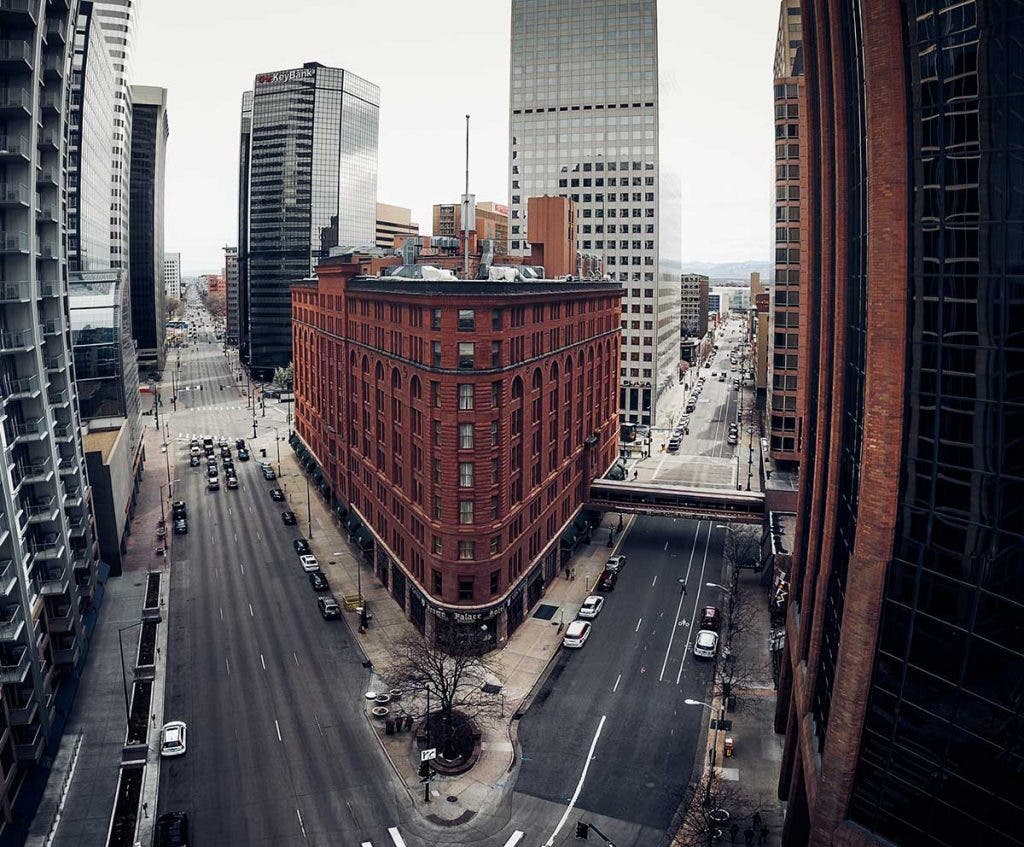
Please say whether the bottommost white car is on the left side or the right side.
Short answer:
left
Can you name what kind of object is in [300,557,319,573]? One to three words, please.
car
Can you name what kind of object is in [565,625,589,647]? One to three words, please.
car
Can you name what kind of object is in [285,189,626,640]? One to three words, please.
building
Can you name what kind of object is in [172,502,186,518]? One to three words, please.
vehicle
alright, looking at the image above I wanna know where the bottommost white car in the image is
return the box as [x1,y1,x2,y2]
[161,724,186,757]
